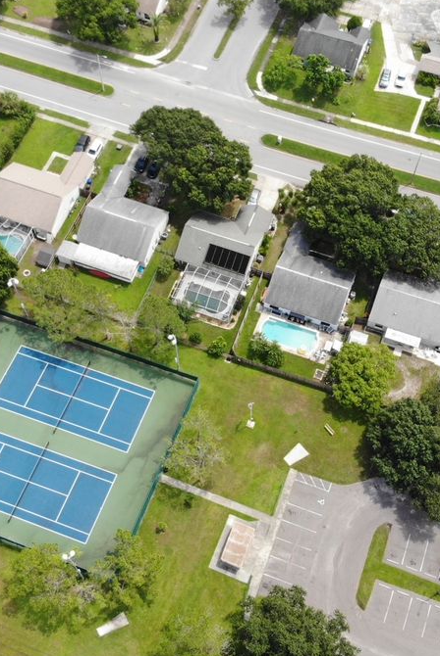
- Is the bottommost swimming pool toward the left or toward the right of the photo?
right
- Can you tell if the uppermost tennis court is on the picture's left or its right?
left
